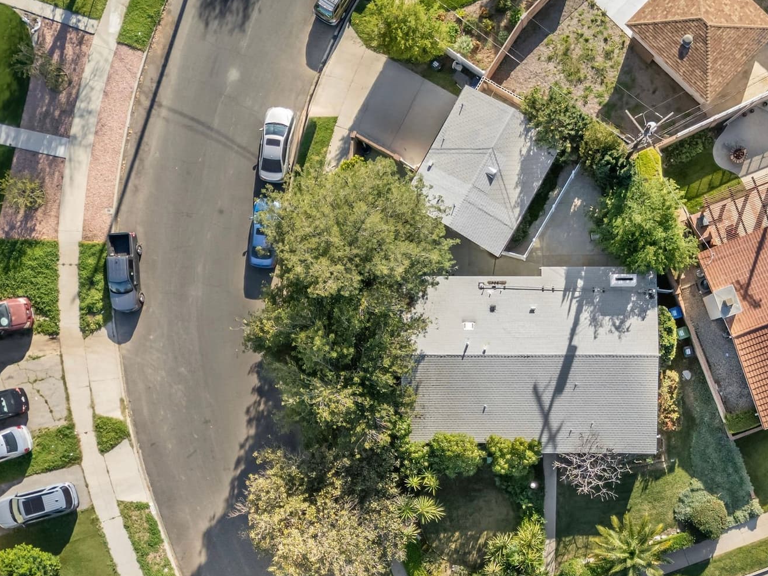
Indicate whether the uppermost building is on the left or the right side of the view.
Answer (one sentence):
You can find the uppermost building on the right side of the picture.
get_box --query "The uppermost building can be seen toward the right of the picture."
[624,0,768,104]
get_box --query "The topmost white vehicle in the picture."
[255,107,292,182]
